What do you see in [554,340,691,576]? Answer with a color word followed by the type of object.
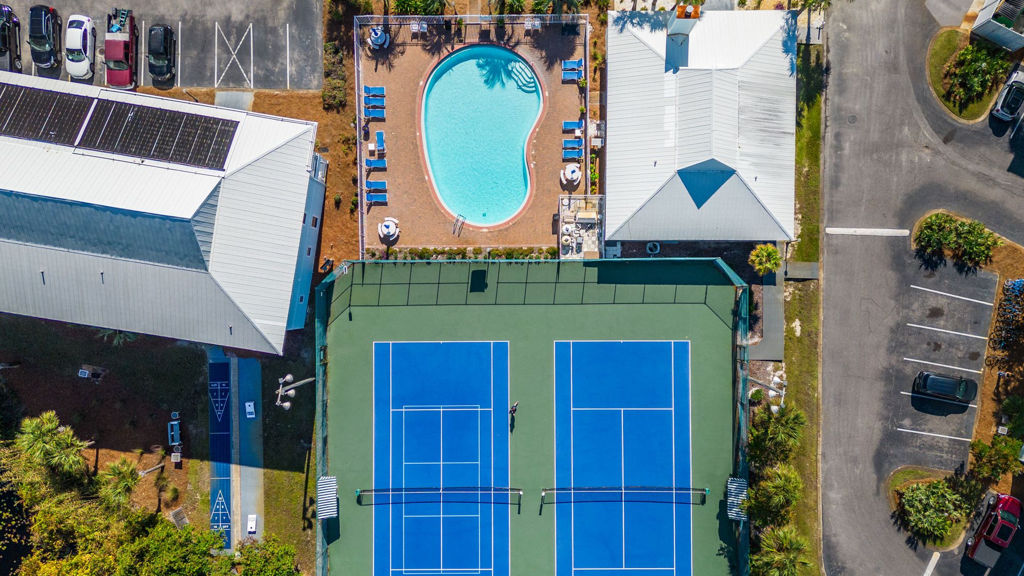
blue tennis court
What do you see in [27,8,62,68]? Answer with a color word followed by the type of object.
black car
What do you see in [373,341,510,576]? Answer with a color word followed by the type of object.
blue tennis court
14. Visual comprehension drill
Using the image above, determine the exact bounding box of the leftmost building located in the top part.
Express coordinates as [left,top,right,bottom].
[0,70,337,357]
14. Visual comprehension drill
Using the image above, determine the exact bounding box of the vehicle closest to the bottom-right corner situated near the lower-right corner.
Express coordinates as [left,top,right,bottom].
[971,491,1024,570]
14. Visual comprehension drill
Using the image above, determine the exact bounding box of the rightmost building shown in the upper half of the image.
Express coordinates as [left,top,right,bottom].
[604,3,798,241]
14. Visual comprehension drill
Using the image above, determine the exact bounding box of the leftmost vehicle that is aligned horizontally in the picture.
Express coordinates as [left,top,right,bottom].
[916,370,980,403]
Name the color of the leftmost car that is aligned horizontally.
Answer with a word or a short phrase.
black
